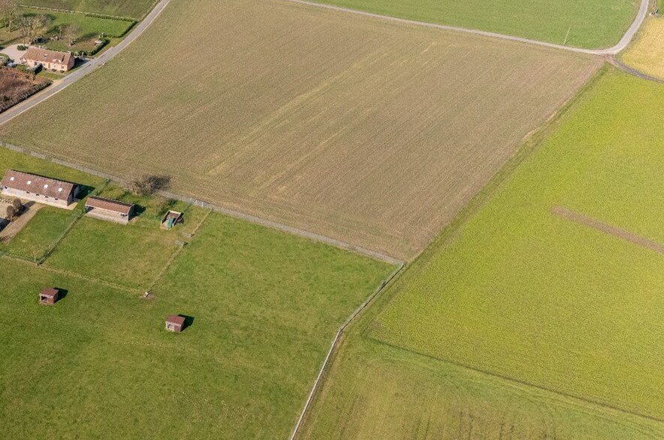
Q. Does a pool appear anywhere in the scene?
No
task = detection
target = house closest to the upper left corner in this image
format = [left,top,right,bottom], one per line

[21,49,74,72]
